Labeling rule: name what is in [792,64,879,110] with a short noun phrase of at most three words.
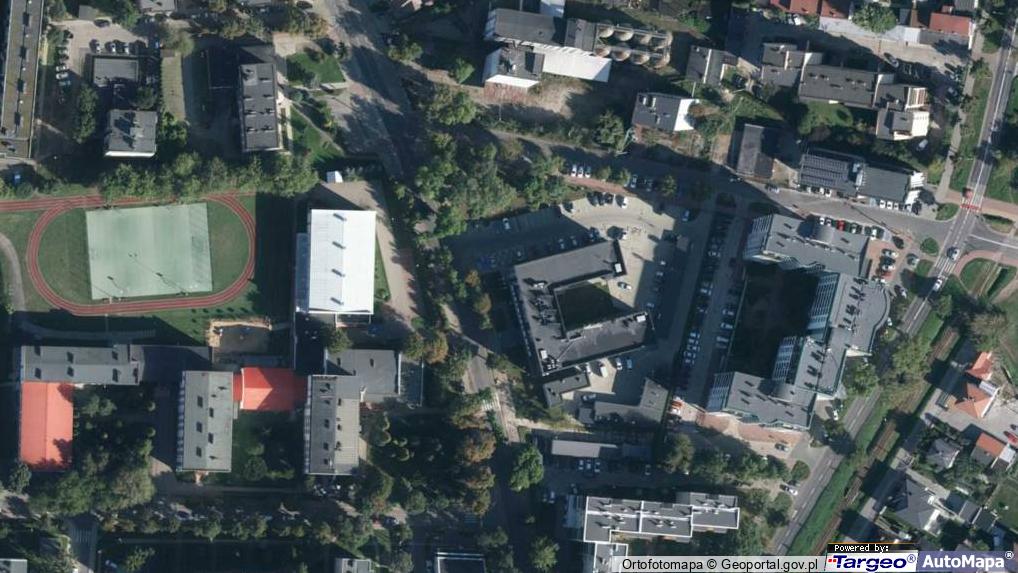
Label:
building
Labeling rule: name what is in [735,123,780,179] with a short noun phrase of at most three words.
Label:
shed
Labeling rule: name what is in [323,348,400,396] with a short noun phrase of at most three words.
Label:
building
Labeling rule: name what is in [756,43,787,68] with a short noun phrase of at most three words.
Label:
house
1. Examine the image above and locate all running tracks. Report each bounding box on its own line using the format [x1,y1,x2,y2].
[0,190,257,315]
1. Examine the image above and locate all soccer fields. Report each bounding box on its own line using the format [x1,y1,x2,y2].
[86,203,213,299]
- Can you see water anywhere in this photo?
No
